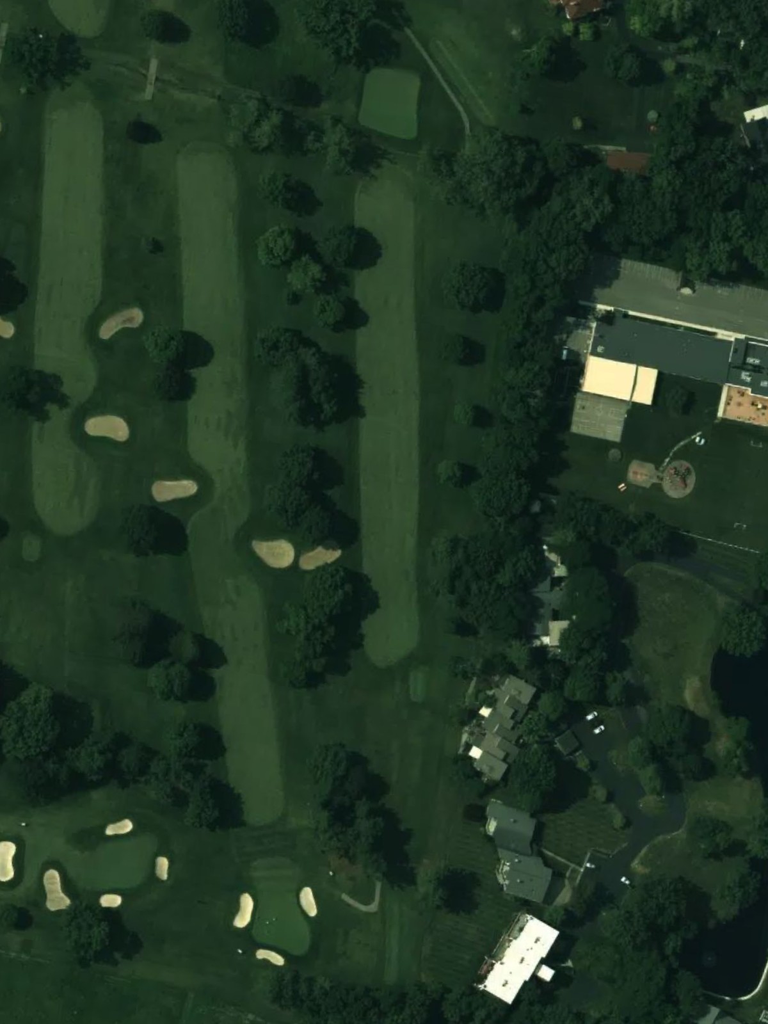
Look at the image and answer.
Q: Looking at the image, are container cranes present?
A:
No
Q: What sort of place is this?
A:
golf course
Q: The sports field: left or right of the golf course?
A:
on its right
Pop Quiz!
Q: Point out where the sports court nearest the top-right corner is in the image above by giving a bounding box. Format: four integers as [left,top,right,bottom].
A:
[570,392,631,442]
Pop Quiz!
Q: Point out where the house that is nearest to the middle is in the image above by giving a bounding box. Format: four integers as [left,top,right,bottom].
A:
[533,572,569,645]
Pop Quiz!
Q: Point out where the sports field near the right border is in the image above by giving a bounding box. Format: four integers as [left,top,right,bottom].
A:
[554,374,768,553]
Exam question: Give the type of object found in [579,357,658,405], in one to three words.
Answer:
building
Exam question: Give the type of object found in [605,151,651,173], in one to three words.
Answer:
barn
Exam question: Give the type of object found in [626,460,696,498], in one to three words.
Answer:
playground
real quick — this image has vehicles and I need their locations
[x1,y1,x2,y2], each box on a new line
[585,863,596,869]
[562,348,567,359]
[740,38,745,49]
[593,725,605,734]
[586,712,597,721]
[620,877,630,885]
